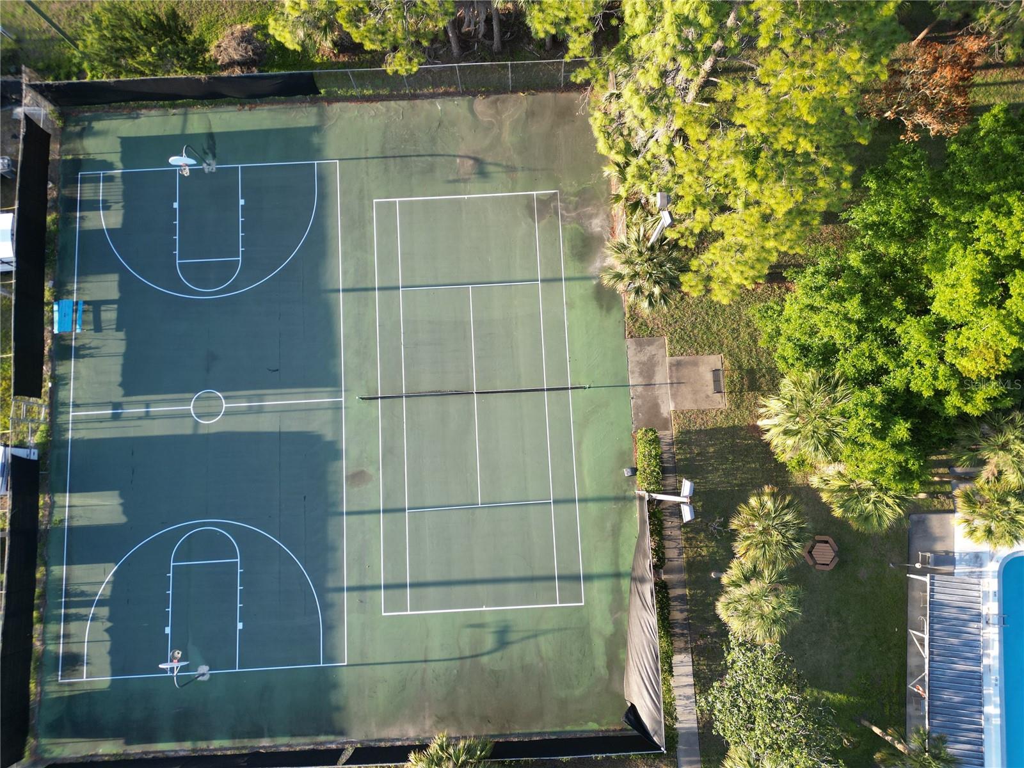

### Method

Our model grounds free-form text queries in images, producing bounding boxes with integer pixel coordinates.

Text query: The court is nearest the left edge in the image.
[58,160,346,681]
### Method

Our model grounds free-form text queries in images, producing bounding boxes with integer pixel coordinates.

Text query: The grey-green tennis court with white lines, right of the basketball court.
[374,191,584,614]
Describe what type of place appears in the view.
sports ground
